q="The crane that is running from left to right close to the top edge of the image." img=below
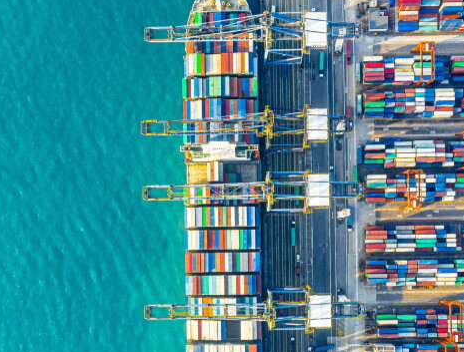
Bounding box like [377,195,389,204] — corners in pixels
[142,11,359,80]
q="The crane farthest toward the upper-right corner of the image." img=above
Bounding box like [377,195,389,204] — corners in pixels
[413,41,436,88]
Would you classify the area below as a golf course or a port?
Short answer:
port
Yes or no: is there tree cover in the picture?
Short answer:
No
